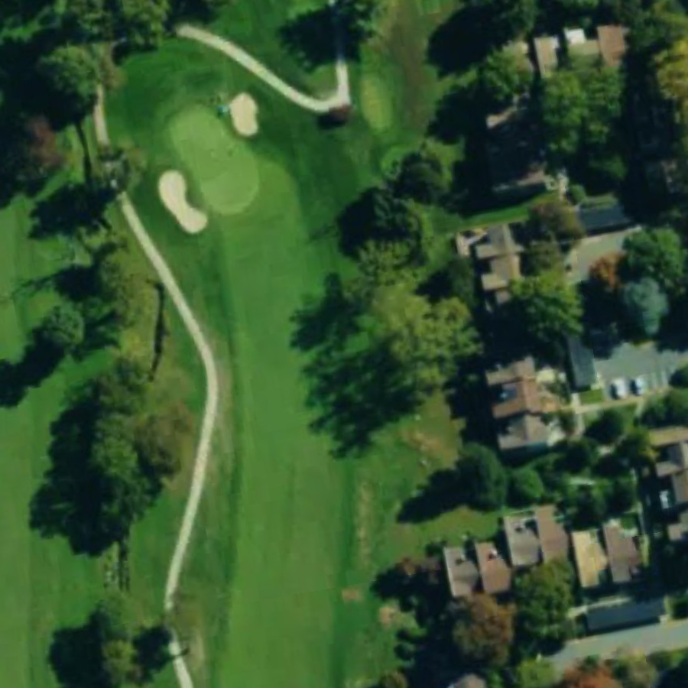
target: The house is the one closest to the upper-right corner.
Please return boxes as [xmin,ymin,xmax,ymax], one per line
[595,26,629,68]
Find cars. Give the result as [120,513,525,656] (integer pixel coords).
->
[633,375,644,394]
[616,379,626,397]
